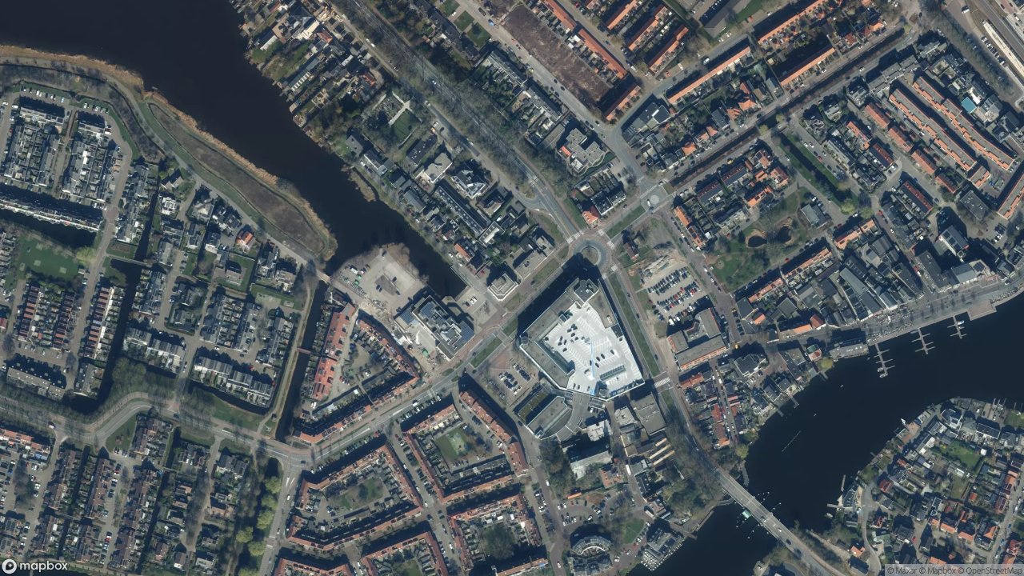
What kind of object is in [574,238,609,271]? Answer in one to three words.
roundabout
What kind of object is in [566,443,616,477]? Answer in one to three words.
building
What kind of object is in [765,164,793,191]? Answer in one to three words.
house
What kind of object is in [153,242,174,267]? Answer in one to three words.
house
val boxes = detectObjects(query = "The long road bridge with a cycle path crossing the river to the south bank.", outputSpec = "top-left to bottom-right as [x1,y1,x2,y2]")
[720,471,820,569]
